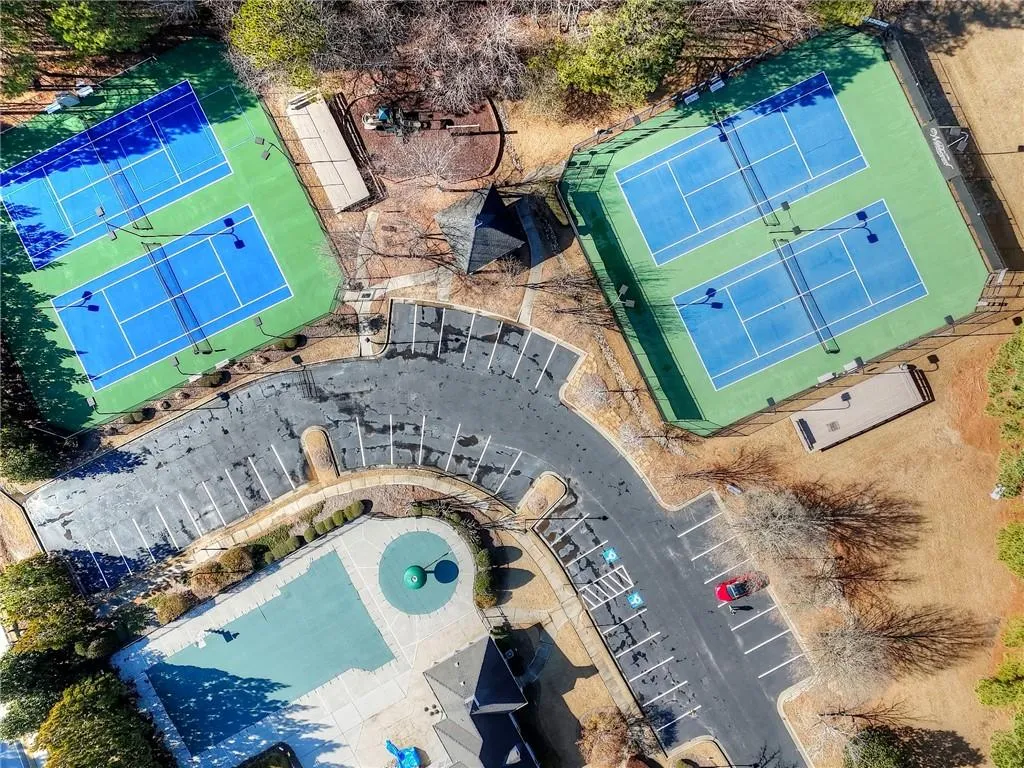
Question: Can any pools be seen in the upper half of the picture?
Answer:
No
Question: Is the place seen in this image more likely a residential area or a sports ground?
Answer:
sports ground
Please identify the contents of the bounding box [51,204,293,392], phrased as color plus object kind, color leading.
blue tennis court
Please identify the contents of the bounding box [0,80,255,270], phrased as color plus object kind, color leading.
blue tennis court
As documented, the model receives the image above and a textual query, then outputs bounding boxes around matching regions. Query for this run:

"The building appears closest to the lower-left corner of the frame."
[423,635,549,768]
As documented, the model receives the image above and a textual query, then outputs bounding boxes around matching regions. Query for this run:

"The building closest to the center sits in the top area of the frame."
[435,184,527,274]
